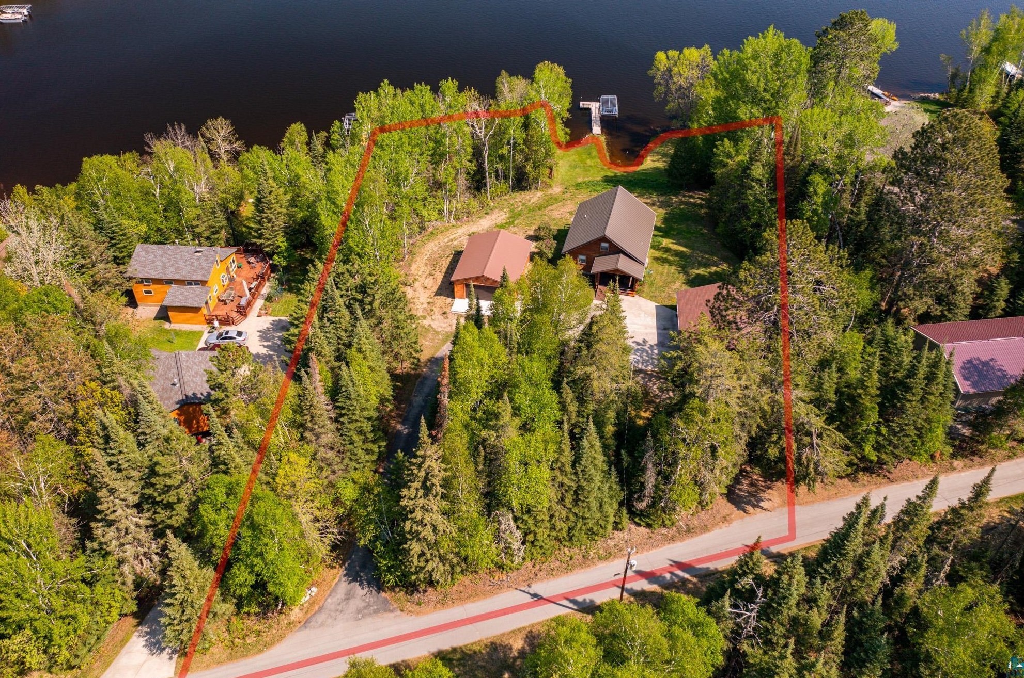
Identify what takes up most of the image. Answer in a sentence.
What you mostly see from above here is trees.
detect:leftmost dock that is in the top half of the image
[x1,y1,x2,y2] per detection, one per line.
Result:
[578,95,603,136]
